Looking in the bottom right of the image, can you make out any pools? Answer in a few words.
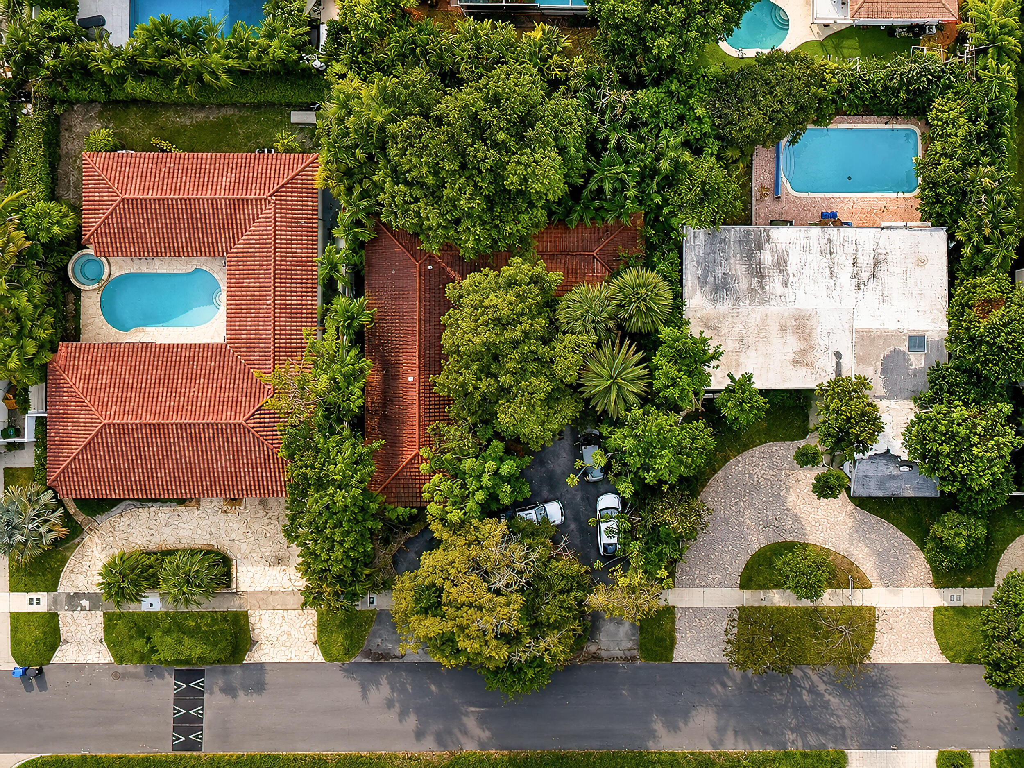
No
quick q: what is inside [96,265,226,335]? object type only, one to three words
swimming pool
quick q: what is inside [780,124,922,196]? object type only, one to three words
swimming pool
